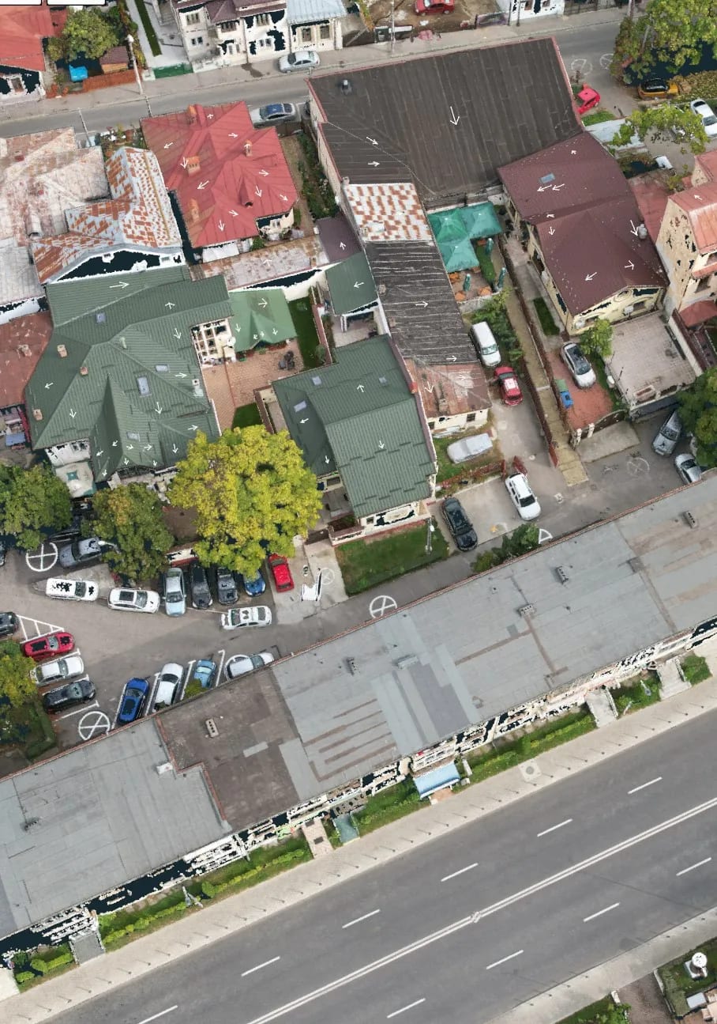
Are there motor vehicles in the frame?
Yes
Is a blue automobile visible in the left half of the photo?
Yes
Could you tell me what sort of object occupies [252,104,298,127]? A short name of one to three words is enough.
car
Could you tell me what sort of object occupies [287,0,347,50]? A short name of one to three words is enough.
house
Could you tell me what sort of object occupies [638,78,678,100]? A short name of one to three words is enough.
car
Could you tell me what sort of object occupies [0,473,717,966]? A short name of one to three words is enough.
building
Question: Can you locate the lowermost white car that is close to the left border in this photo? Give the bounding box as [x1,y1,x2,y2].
[32,655,86,686]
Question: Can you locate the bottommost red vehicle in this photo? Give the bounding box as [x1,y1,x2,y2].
[20,630,76,662]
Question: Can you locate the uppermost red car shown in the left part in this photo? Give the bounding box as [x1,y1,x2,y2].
[270,554,293,594]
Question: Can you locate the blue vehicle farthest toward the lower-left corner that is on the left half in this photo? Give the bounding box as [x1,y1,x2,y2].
[116,677,149,727]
